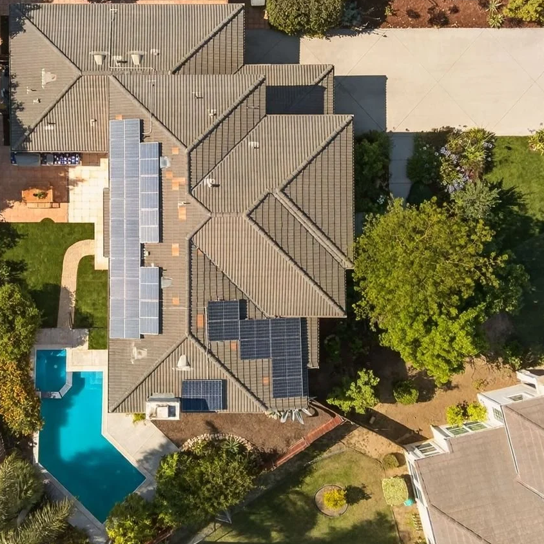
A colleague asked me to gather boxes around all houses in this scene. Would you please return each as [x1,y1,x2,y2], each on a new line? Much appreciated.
[406,367,544,544]
[9,2,355,422]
